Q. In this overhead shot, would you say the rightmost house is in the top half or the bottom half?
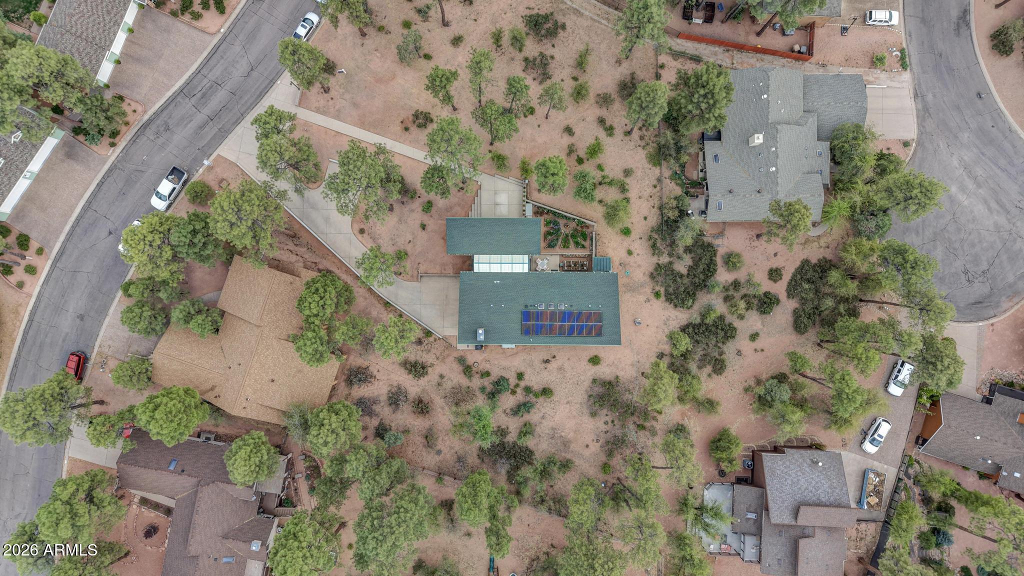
bottom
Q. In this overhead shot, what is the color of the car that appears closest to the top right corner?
white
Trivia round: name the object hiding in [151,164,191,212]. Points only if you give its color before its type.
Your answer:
white truck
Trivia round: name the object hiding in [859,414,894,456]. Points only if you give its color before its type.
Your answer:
white car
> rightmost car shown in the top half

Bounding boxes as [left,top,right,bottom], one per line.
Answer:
[860,9,901,30]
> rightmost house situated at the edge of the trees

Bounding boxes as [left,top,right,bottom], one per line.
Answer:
[919,391,1024,492]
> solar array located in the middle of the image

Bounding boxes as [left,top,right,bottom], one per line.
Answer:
[522,312,602,335]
